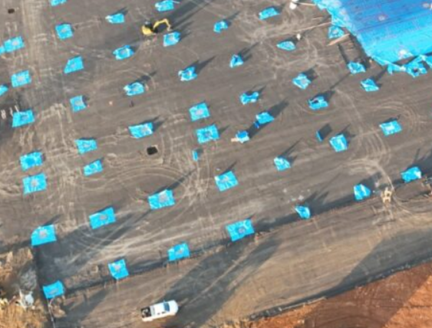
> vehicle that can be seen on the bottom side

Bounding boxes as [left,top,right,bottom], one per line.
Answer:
[141,302,178,321]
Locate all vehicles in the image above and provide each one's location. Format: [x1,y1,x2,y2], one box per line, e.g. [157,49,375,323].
[141,302,178,321]
[139,13,172,37]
